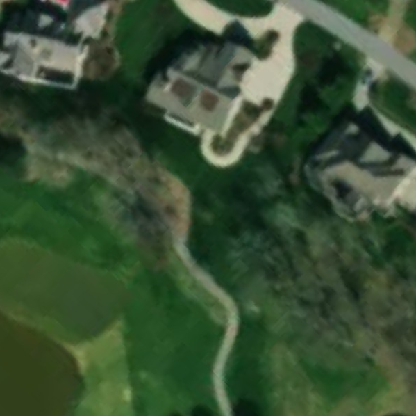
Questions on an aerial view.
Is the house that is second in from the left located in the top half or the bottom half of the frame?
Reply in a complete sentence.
It is in the top half that the house that is second in from the left appears.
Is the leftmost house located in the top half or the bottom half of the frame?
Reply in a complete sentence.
The leftmost house is in the top half of the image.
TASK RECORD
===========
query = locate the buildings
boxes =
[306,111,416,212]
[0,0,118,87]
[141,23,266,135]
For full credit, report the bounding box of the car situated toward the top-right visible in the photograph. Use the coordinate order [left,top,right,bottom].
[360,70,373,87]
